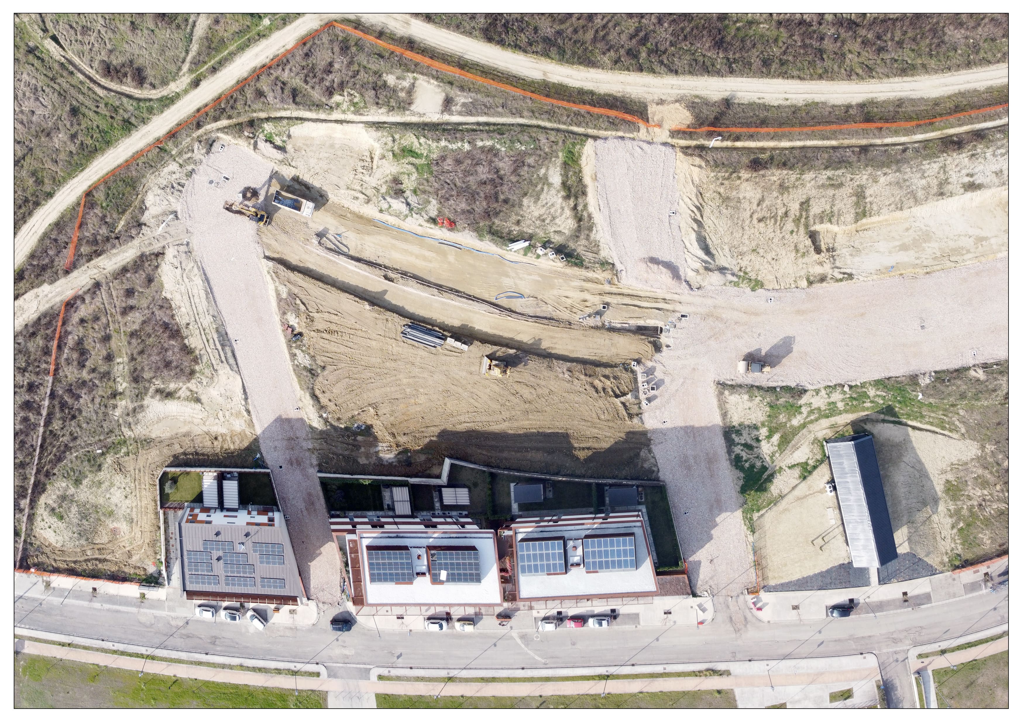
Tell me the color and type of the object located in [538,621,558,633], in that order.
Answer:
white vehicle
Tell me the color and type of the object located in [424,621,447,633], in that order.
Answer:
white vehicle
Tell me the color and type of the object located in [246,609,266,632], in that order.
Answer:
white car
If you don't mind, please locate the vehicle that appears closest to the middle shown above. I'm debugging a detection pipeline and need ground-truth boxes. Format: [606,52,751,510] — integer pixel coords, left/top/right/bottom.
[484,361,509,380]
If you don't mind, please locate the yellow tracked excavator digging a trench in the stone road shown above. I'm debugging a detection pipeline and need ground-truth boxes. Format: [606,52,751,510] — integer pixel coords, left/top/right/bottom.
[227,201,270,229]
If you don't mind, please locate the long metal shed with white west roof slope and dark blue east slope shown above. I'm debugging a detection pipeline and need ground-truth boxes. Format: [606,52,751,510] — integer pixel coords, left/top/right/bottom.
[824,431,897,567]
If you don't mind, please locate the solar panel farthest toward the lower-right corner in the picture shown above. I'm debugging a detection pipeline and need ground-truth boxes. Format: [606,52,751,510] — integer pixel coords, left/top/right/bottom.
[584,538,635,570]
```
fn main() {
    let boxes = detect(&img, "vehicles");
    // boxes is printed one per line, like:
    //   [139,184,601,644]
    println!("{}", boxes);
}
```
[567,619,584,630]
[329,622,352,633]
[246,609,266,632]
[484,361,509,380]
[195,609,216,621]
[538,621,558,633]
[227,201,270,229]
[219,612,242,623]
[424,621,447,633]
[270,192,313,219]
[828,606,851,618]
[739,362,768,376]
[454,622,474,633]
[588,617,611,628]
